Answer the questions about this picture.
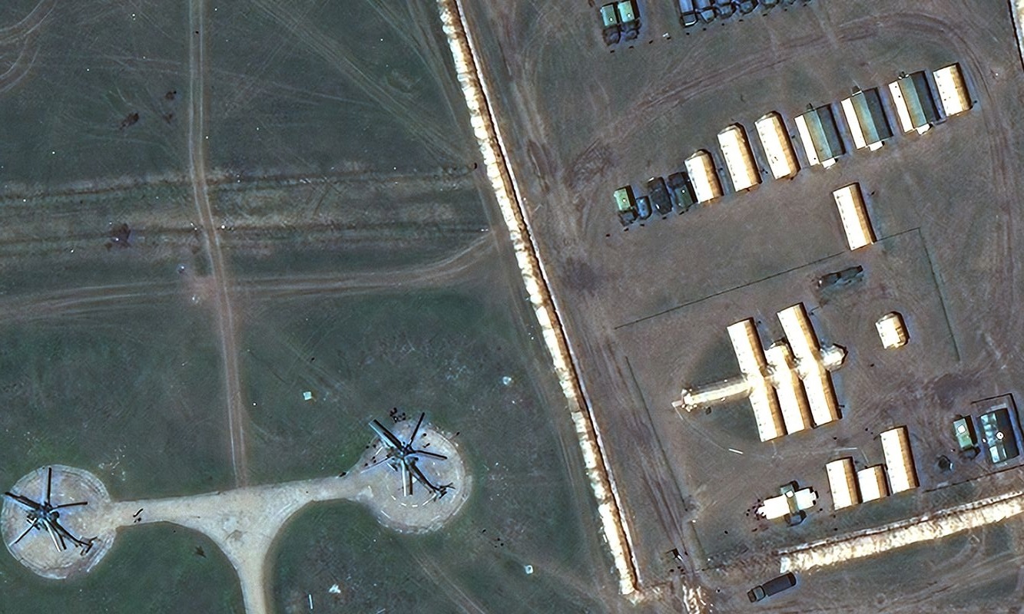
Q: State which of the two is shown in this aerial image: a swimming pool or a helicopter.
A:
helicopter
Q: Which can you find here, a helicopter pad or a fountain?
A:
helicopter pad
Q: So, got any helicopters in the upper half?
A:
No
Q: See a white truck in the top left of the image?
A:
No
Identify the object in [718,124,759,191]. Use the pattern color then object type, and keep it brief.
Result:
white tent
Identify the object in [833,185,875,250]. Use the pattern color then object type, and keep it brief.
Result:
white tent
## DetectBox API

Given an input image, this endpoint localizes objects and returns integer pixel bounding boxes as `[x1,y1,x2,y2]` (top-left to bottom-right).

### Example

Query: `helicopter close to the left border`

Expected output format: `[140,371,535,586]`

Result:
[3,467,95,556]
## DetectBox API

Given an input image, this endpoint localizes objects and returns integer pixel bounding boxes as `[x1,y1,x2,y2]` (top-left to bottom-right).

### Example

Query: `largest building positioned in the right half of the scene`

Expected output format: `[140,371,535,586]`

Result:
[681,306,843,442]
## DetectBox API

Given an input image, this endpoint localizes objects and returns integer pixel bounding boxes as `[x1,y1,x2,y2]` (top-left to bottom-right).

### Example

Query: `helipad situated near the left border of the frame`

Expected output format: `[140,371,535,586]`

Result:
[3,466,111,578]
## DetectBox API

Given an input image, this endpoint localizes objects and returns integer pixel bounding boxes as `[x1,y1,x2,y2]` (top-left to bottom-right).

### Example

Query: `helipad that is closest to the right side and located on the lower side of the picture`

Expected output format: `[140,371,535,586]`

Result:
[365,421,470,533]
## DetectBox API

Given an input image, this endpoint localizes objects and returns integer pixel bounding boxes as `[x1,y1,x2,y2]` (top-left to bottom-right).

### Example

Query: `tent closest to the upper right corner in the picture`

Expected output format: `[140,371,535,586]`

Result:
[933,66,969,116]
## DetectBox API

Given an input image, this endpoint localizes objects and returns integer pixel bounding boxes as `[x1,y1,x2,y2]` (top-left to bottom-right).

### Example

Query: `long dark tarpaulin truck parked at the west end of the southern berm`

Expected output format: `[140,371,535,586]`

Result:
[746,573,796,604]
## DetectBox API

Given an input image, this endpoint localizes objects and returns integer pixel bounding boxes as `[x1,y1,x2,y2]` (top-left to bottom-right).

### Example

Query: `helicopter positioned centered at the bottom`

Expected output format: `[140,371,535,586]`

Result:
[362,413,449,500]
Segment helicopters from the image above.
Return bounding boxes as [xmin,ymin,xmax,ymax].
[362,413,449,500]
[3,467,95,556]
